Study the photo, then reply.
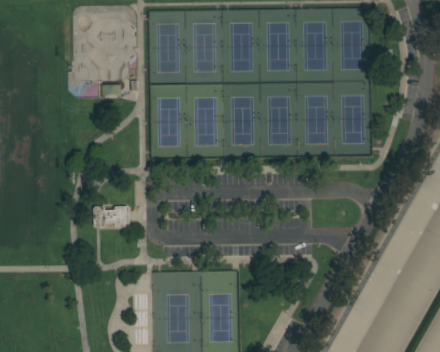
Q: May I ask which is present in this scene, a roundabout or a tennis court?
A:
tennis court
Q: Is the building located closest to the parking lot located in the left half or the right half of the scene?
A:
left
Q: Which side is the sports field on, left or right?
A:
left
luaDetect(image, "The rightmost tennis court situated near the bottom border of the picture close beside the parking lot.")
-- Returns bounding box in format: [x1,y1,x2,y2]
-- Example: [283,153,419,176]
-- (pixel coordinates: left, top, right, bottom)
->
[202,272,239,352]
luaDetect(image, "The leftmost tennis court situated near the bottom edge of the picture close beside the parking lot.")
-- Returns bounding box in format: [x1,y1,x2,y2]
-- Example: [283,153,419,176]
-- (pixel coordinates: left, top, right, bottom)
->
[153,272,202,352]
